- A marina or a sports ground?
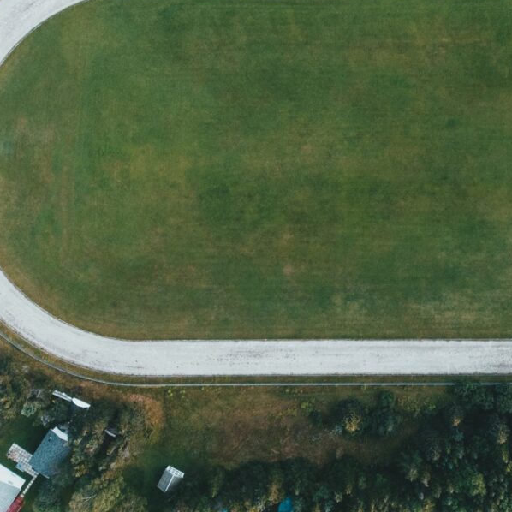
sports ground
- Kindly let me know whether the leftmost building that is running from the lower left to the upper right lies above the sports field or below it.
below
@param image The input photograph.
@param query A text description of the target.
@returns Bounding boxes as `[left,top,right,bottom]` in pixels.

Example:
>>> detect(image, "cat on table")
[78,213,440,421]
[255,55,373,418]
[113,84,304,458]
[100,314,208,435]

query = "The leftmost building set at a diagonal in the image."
[29,427,72,477]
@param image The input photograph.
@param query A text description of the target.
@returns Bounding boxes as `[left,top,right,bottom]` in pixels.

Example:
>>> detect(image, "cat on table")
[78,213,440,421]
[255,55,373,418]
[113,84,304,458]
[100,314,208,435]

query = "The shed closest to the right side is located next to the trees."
[158,466,184,495]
